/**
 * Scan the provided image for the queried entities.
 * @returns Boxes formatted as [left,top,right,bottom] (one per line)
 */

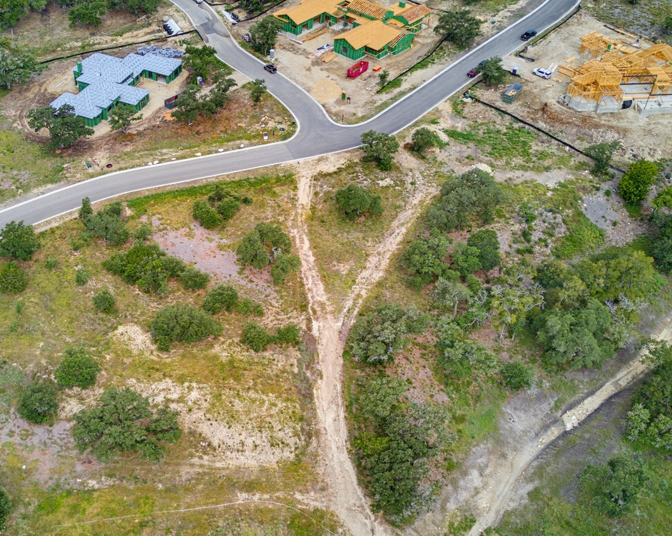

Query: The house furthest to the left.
[49,54,183,129]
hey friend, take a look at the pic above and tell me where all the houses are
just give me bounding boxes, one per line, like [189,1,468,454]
[49,54,183,129]
[562,38,672,115]
[266,0,434,61]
